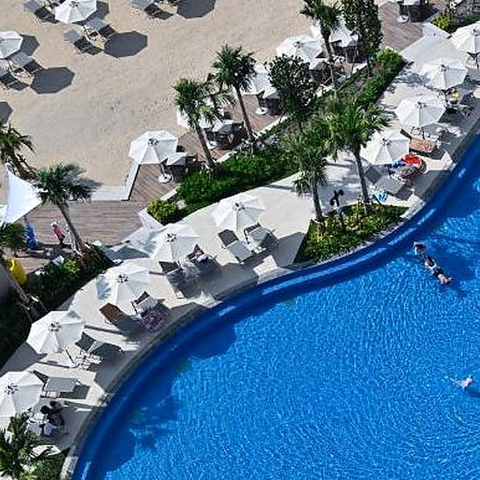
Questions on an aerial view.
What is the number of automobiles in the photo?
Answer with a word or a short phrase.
0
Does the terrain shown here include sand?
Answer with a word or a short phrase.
Yes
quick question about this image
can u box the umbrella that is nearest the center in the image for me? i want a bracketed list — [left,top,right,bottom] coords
[213,195,266,248]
